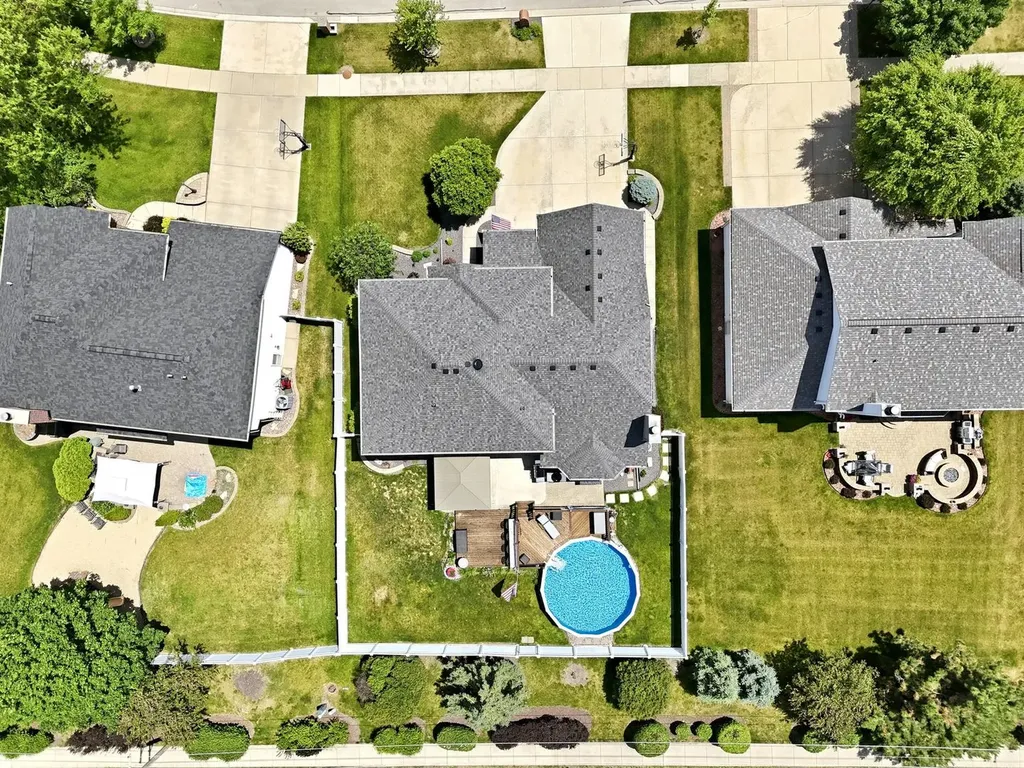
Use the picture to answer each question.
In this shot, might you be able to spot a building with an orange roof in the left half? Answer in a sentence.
No, the scene shows no building with an orange roof in the left half.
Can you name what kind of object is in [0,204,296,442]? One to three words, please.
house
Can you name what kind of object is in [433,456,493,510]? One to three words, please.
gazebo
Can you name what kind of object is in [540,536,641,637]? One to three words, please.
swimming pool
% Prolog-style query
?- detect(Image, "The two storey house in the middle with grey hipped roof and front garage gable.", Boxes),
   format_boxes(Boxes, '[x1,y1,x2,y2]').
[357,203,662,481]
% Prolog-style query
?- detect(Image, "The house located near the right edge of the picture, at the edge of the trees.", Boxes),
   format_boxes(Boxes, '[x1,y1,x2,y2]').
[724,197,1024,418]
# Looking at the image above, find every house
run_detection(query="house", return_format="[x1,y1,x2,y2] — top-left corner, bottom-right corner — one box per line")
[724,197,1024,418]
[0,204,296,442]
[357,203,662,481]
